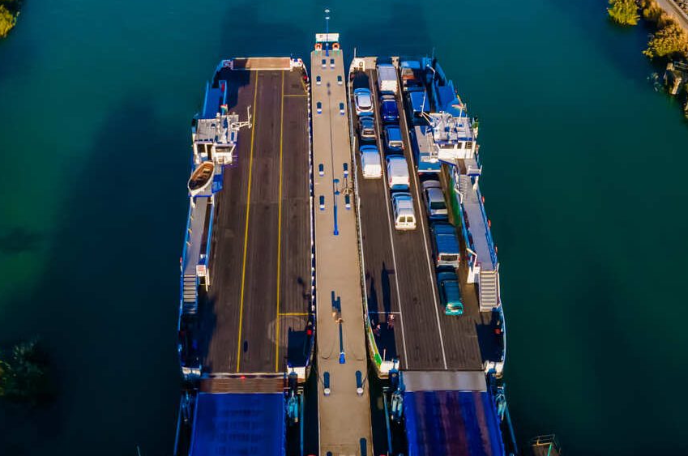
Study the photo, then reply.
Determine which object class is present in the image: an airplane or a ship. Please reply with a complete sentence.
This aerial view contains a ship.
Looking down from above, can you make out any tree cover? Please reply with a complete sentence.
No, there is no tree cover in the image.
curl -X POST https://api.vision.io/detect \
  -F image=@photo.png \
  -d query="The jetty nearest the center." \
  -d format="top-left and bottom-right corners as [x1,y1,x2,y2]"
[311,51,374,456]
